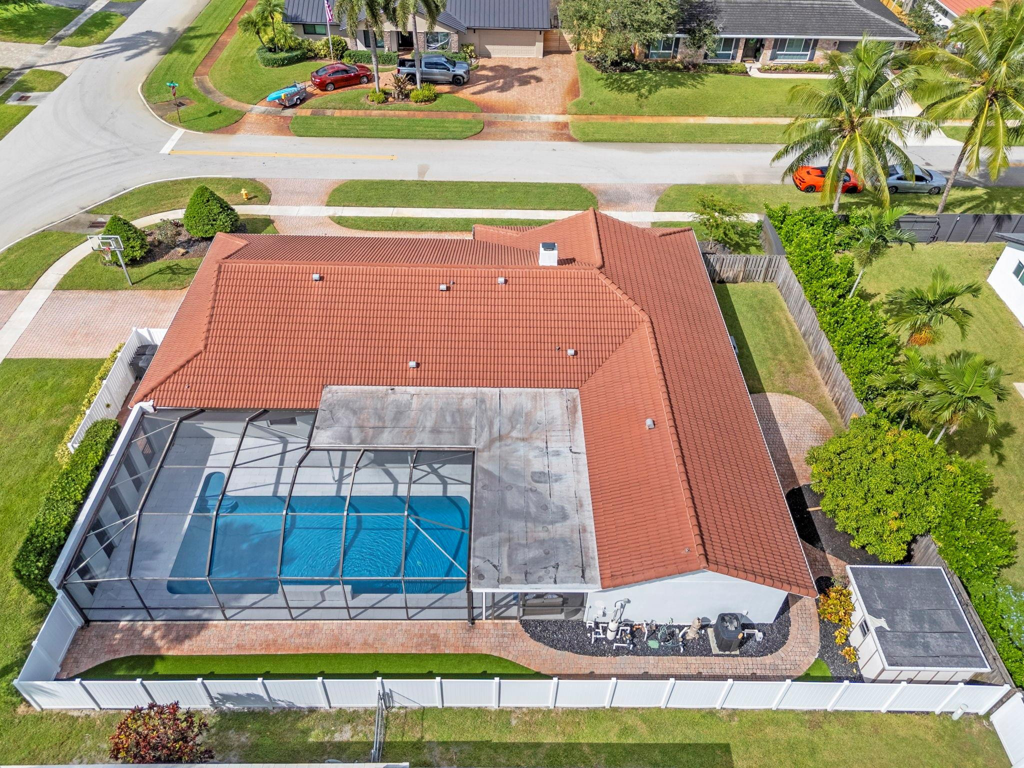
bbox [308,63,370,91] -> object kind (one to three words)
car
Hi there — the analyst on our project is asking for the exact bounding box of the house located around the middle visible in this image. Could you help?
[125,206,821,623]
